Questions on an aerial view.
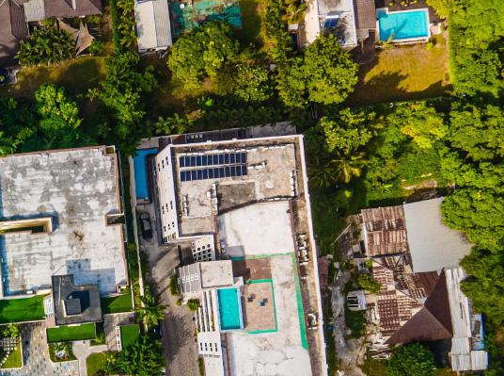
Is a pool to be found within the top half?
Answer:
Yes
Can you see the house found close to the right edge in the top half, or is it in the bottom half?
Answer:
bottom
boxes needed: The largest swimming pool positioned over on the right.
[379,8,431,41]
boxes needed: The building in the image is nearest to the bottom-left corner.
[0,146,127,325]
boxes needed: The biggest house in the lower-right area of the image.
[356,197,489,370]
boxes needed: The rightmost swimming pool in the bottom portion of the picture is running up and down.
[219,289,240,329]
